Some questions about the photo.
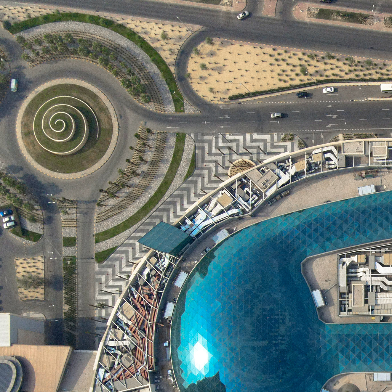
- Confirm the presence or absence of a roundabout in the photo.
Yes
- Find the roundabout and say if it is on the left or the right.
left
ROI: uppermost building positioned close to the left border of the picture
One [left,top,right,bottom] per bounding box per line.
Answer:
[0,313,58,348]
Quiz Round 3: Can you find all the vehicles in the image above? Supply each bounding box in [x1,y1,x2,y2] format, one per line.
[322,87,335,93]
[296,92,309,98]
[270,112,283,119]
[381,83,392,93]
[3,217,16,222]
[238,11,250,21]
[11,78,19,93]
[3,222,17,229]
[0,210,13,217]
